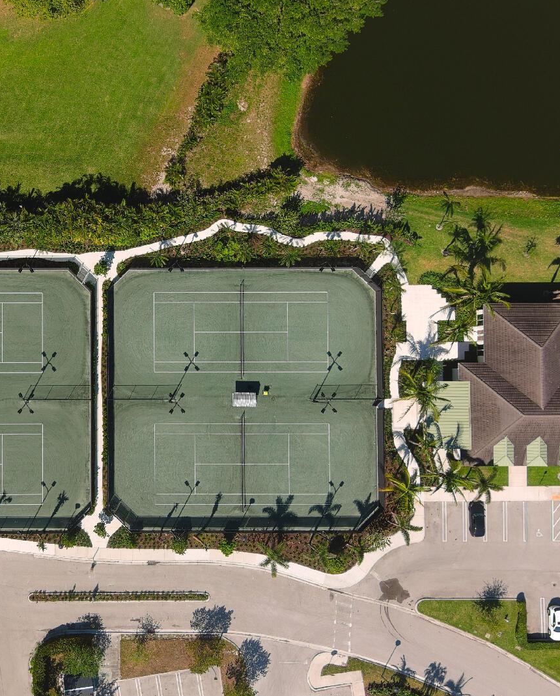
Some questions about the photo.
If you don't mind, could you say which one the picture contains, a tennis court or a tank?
tennis court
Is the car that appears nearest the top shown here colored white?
No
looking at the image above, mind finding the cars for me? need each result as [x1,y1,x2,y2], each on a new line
[546,601,560,640]
[466,500,487,537]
